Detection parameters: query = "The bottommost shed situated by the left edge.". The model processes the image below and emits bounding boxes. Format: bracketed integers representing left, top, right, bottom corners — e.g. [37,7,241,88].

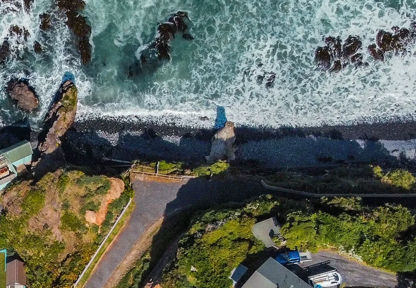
[5,259,26,288]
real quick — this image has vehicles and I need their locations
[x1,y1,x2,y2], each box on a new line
[273,250,313,265]
[305,270,341,288]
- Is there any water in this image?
Yes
